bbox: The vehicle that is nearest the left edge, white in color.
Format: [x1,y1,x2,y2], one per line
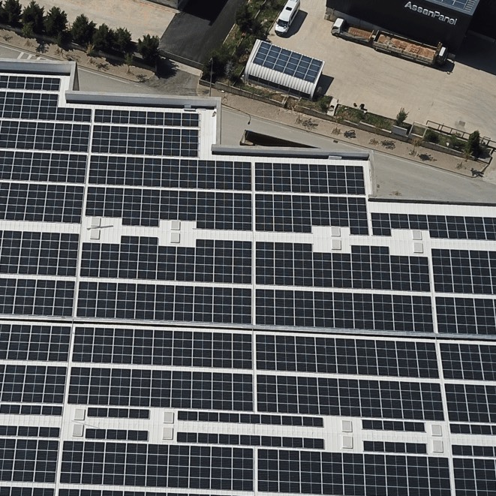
[274,0,299,36]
